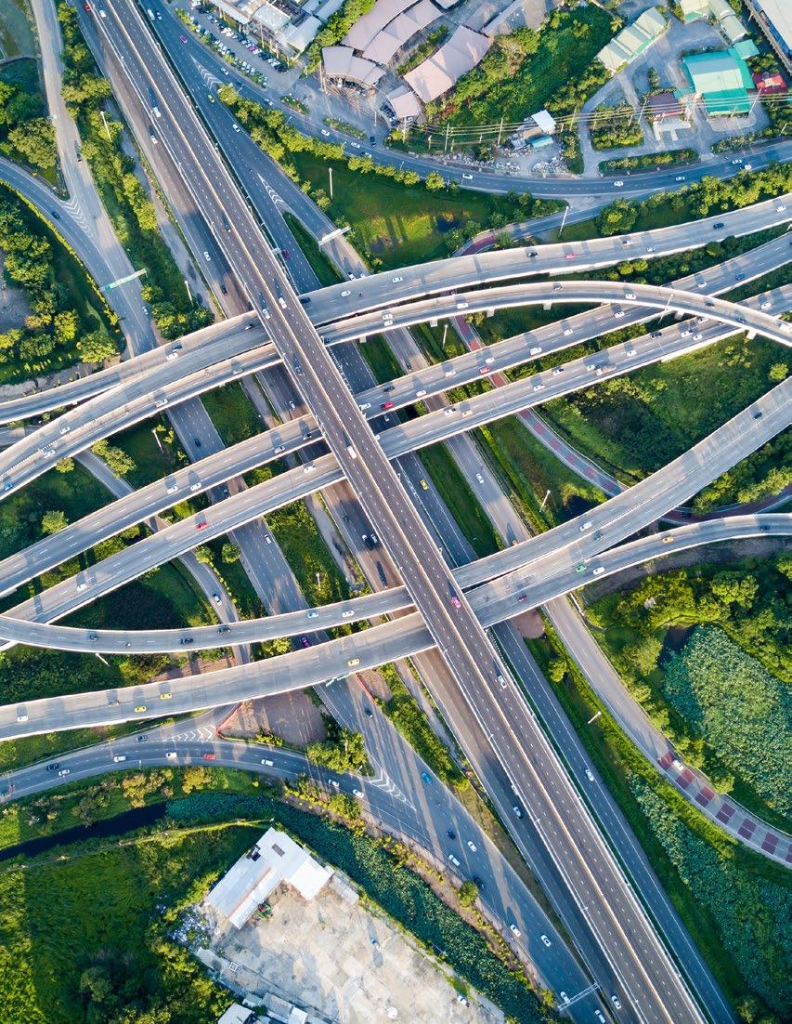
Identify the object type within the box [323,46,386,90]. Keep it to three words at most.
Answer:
building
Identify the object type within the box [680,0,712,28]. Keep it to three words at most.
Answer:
building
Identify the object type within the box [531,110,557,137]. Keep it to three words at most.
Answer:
shed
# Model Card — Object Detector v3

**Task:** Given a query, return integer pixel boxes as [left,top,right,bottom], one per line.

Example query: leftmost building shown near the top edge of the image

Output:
[212,0,267,29]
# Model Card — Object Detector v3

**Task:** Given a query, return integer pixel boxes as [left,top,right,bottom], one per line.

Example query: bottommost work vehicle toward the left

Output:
[256,903,270,918]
